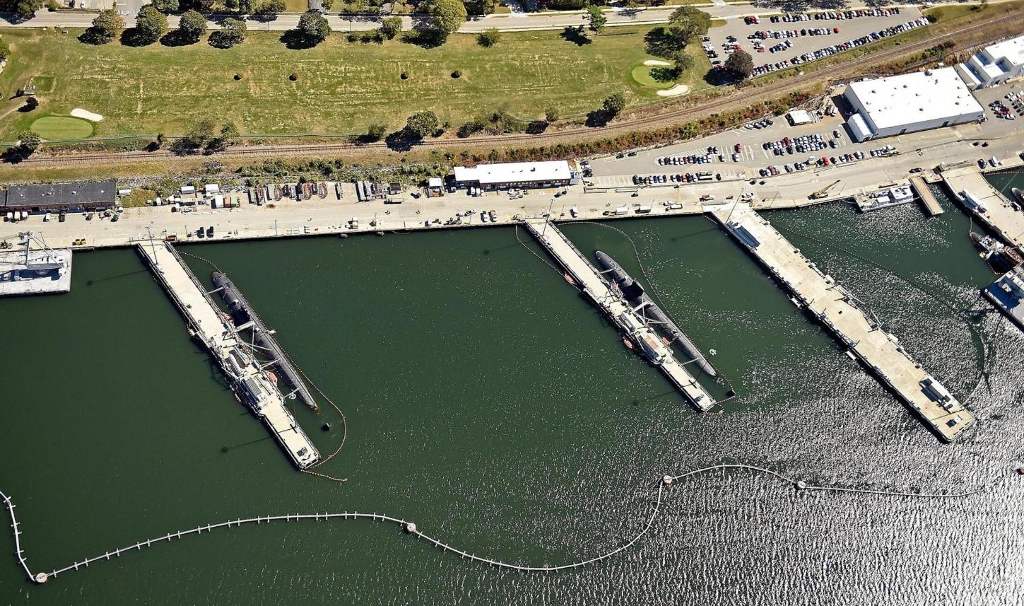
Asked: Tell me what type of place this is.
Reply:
port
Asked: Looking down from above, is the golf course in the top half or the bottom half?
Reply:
top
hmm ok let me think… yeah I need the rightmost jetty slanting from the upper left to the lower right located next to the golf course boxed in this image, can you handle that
[711,210,974,442]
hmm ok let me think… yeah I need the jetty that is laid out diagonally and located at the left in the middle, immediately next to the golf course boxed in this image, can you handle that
[136,242,320,472]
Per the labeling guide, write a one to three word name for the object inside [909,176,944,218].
pier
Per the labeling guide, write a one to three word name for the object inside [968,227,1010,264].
boat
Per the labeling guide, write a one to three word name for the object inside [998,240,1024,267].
boat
